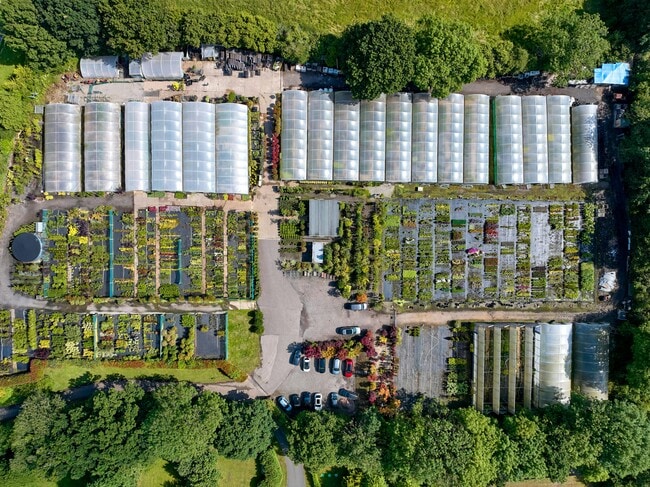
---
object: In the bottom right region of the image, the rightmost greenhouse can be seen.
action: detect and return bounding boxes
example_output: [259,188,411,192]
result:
[574,324,611,407]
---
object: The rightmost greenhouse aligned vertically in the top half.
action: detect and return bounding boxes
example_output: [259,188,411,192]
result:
[573,102,601,184]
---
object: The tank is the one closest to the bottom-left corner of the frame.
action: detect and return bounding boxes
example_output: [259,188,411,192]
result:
[6,232,45,264]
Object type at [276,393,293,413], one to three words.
car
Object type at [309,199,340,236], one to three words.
shed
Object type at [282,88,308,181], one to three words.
greenhouse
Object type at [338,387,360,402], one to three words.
car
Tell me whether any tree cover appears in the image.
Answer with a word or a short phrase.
Yes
